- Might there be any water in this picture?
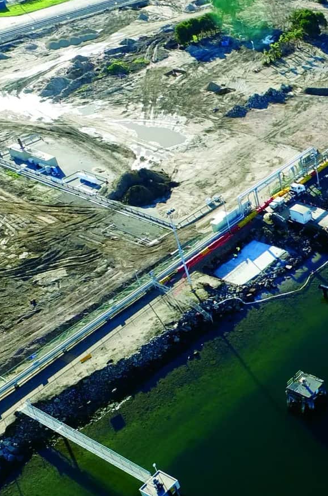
Yes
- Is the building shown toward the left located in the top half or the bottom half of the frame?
top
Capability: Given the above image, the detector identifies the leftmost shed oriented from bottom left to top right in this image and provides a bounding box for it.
[204,196,250,233]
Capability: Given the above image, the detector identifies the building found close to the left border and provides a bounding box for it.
[6,144,65,174]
